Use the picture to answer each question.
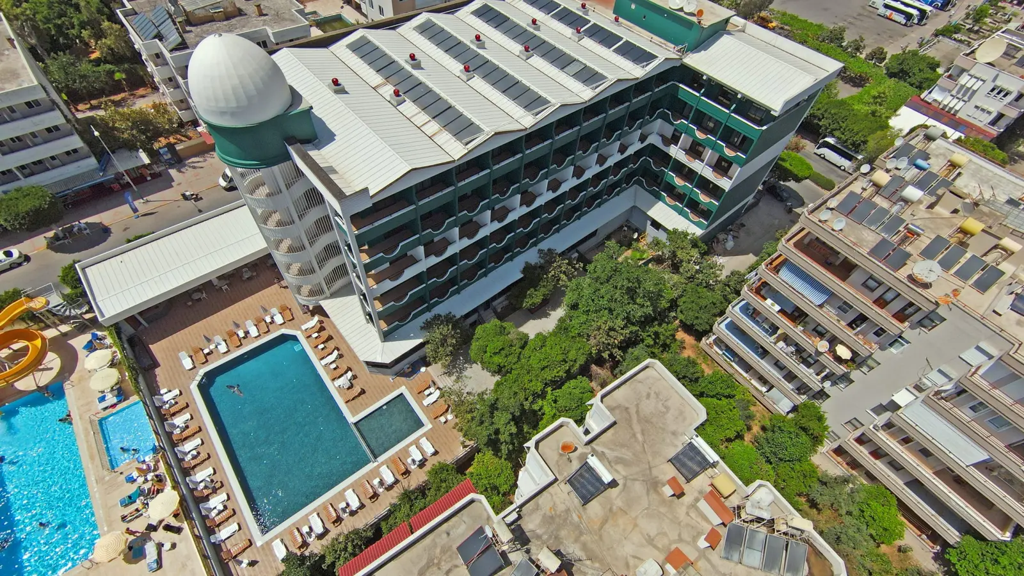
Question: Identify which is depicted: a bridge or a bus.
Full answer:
Of the two, only a bus appears.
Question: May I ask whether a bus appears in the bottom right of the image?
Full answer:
No, the scene shows no bus in the bottom right of the image.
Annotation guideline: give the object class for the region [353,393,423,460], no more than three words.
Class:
swimming pool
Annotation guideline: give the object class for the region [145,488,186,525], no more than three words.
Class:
umbrella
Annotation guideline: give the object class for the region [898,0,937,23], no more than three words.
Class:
bus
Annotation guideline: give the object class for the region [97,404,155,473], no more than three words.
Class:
swimming pool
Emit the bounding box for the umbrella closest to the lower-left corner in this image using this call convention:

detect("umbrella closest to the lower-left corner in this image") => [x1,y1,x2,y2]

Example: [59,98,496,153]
[89,527,135,571]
